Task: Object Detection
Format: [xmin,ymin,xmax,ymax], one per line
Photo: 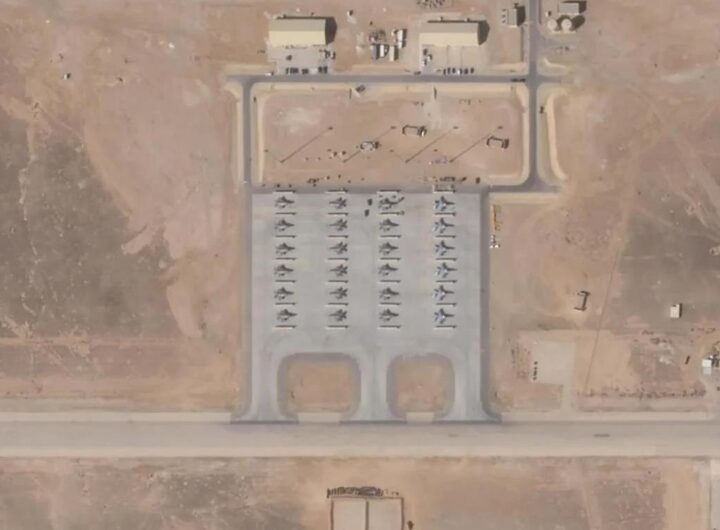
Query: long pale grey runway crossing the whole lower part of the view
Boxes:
[0,412,720,457]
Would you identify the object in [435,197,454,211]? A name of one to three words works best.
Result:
airplane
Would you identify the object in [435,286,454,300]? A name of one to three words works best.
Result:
airplane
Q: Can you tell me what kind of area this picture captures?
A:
airport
